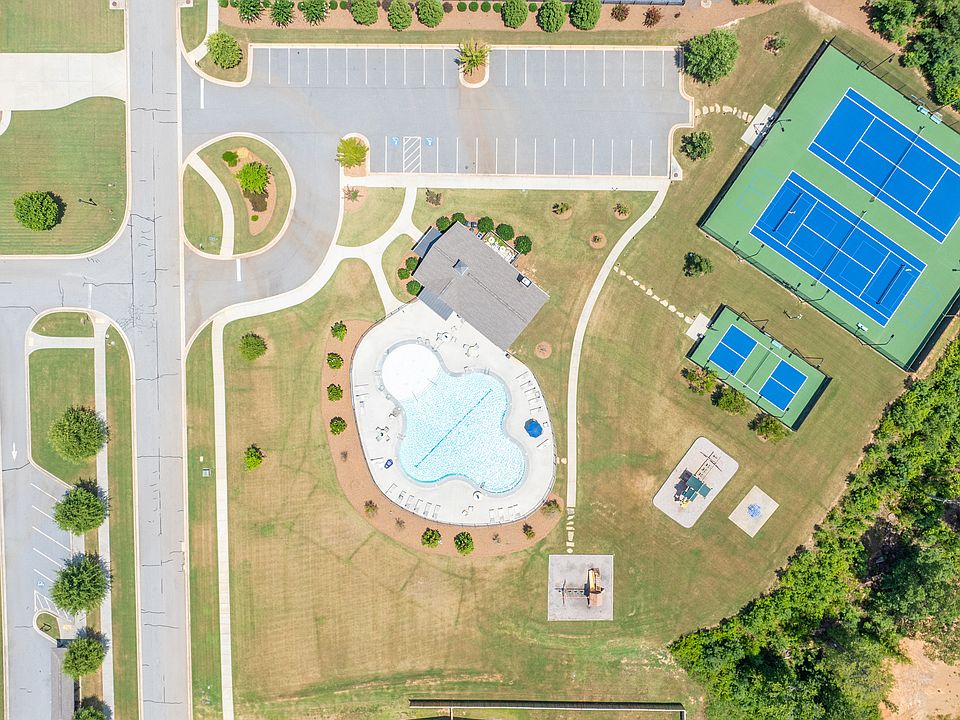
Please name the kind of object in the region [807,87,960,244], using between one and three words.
tennis court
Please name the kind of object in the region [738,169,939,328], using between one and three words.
tennis court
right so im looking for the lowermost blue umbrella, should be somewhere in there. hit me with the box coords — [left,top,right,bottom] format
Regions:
[525,419,543,437]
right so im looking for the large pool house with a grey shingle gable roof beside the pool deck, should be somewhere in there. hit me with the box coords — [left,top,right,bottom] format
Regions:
[412,220,549,352]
